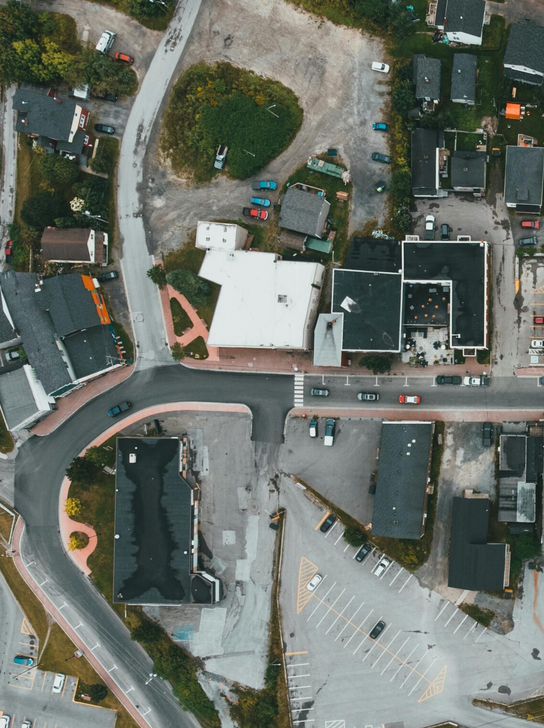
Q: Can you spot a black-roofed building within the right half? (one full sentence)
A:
Yes, the scene does show a black-roofed building within the right half.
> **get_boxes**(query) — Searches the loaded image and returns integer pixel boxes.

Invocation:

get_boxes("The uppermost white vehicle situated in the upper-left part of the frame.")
[92,27,114,55]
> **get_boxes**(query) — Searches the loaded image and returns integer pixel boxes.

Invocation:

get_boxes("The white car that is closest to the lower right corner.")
[374,558,390,578]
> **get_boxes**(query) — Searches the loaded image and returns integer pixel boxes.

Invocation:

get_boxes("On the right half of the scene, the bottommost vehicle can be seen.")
[369,620,386,640]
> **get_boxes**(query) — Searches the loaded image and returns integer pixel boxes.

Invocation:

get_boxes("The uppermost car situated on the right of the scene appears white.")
[369,60,390,73]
